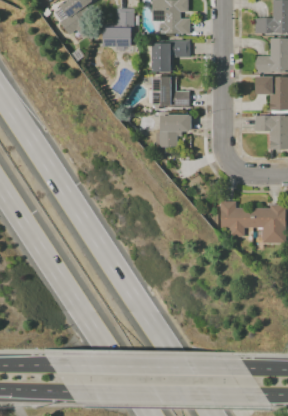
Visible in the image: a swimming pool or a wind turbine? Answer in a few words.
swimming pool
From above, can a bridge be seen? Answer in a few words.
Yes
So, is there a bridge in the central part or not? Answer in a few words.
No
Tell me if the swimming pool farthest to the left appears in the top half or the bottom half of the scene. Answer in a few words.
top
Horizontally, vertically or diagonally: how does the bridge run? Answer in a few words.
horizontally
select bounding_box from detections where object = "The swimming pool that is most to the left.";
[108,57,136,99]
